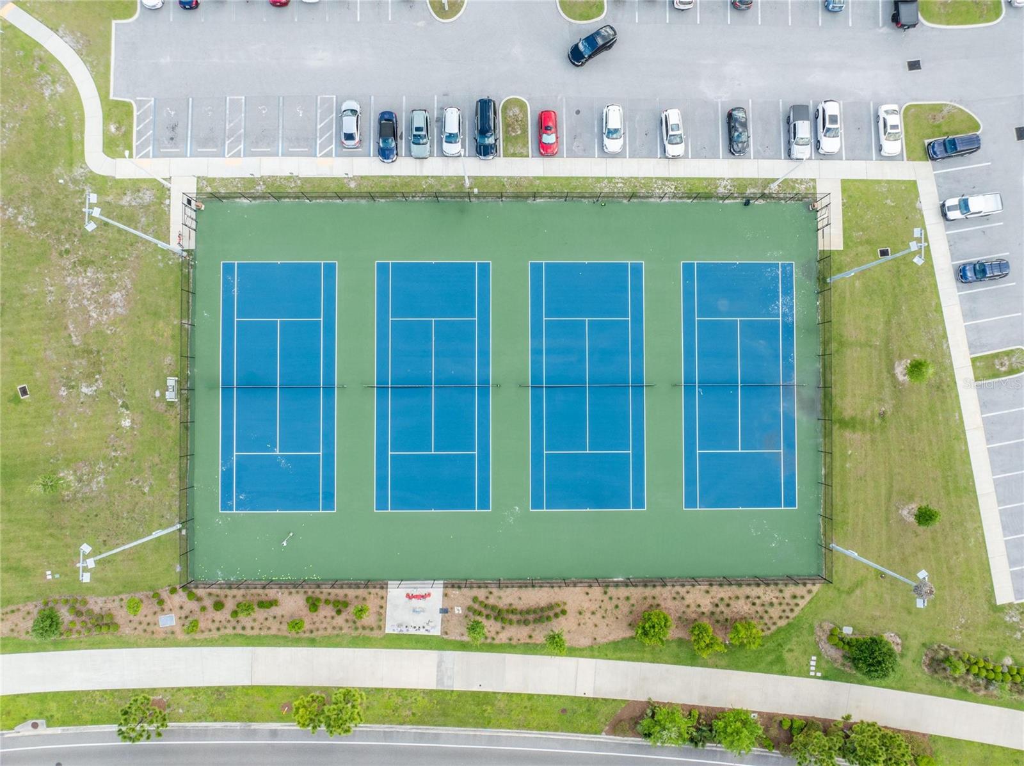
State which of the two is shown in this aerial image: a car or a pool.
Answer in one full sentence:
Visible in the photo is a car.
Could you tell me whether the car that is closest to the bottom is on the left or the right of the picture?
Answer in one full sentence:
The car that is closest to the bottom is on the right side of the image.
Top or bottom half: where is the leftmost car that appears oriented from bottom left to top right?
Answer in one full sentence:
The leftmost car that appears oriented from bottom left to top right sits in the top half of the picture.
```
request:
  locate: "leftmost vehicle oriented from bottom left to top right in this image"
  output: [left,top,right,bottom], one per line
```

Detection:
[567,24,619,68]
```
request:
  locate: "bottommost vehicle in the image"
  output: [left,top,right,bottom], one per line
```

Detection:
[954,258,1011,284]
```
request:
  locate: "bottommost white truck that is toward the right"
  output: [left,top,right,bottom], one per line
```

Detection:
[938,191,1006,222]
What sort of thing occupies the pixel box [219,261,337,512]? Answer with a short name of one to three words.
tennis court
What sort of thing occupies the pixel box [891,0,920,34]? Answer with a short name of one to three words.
car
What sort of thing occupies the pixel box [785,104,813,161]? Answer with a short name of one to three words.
truck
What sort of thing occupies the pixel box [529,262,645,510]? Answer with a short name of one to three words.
tennis court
